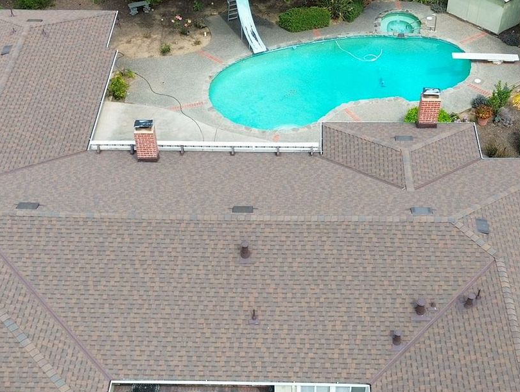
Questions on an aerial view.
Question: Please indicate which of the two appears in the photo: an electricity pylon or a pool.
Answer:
pool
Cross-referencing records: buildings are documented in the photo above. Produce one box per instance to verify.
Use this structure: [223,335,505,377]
[448,0,520,33]
[0,5,520,392]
